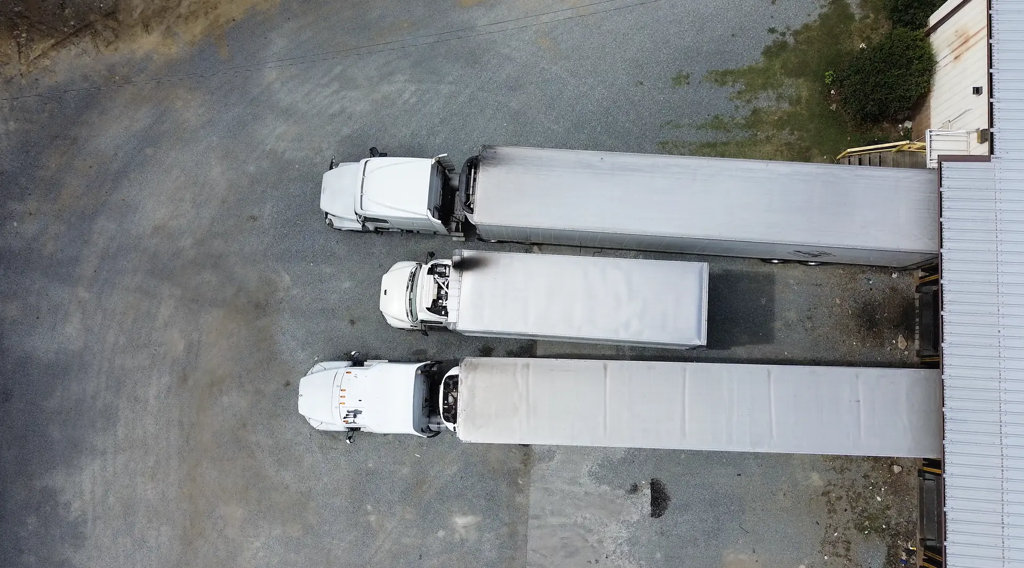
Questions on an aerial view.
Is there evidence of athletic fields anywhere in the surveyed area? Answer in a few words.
No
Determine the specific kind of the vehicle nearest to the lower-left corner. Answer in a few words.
truck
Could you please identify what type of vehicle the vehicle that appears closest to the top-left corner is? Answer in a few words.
truck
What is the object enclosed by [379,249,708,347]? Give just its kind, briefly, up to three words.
truck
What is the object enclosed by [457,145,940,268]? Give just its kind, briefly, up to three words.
trailer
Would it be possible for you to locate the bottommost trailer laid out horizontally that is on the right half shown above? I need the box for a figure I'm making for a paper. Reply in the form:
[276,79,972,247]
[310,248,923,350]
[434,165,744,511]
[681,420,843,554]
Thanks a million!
[440,356,943,458]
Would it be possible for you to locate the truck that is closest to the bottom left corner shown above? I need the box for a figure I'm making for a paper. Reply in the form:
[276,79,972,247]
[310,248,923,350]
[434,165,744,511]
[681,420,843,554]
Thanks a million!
[298,350,451,445]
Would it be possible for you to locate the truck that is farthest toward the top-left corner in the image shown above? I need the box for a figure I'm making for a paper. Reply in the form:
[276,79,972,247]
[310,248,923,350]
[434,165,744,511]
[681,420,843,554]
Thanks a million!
[320,147,466,244]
